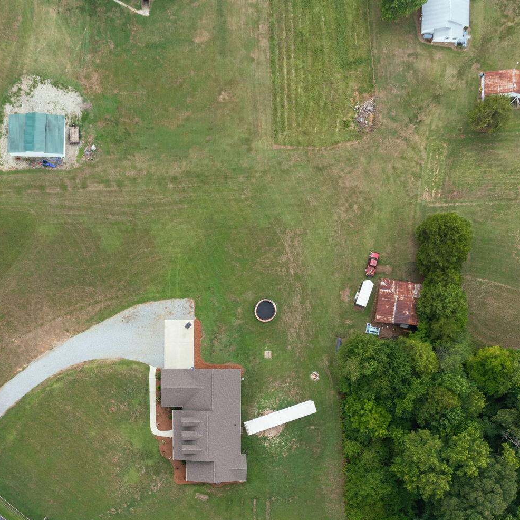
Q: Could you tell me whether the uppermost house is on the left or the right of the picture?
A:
right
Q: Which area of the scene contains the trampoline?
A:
center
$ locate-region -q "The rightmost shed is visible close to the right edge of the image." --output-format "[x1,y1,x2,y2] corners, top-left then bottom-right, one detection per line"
[482,69,520,101]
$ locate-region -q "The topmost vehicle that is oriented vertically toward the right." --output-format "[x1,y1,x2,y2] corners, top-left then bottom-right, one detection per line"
[365,252,380,278]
